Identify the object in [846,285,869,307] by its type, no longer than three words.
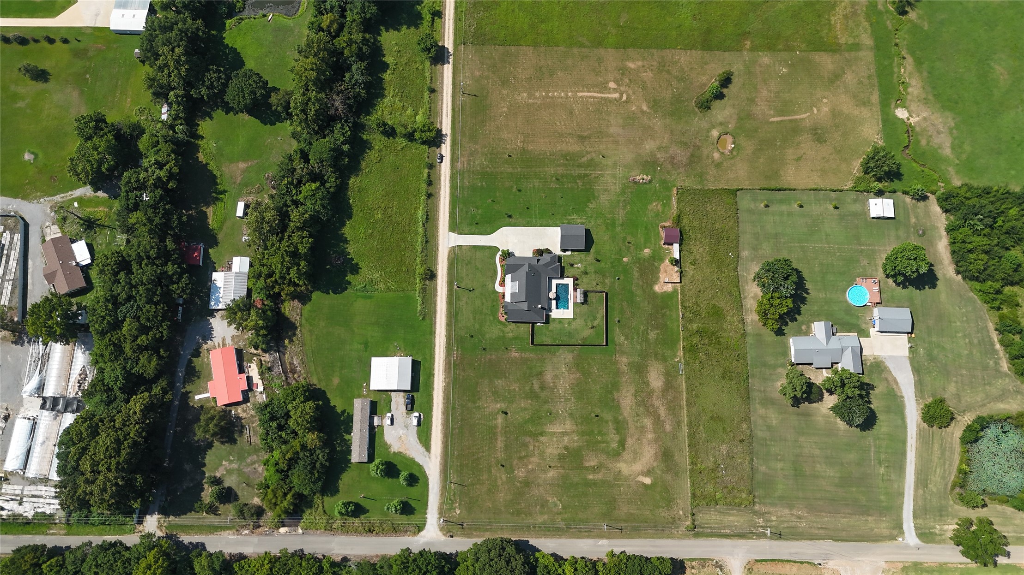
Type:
swimming pool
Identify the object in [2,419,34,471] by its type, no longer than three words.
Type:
building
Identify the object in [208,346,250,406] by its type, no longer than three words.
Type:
house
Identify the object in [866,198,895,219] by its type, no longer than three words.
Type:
shed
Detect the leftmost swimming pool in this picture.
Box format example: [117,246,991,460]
[556,284,569,310]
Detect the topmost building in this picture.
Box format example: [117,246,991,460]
[109,0,152,35]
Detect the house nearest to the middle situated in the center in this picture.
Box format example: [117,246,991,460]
[504,253,560,322]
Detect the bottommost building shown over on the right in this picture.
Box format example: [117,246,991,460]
[790,321,862,373]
